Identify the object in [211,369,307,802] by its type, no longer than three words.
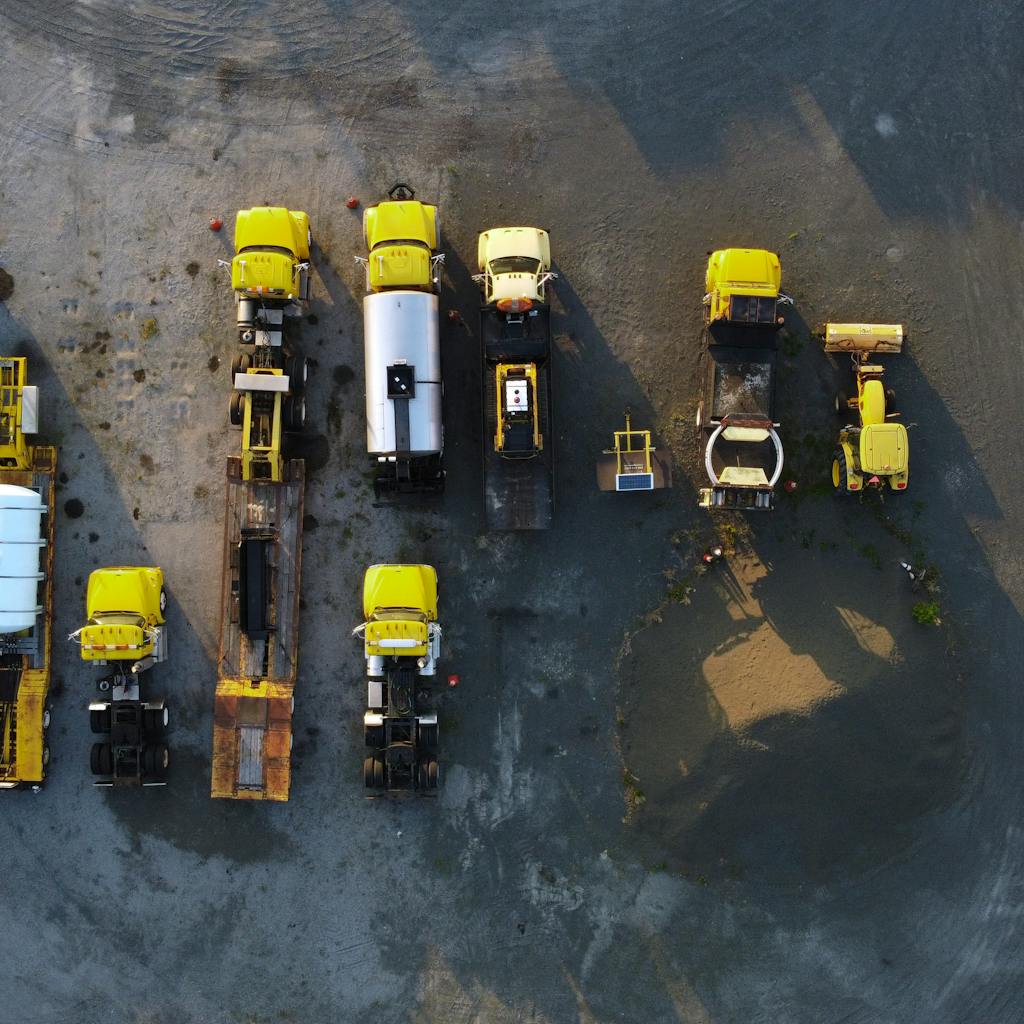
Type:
trailer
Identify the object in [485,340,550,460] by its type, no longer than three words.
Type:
work vehicle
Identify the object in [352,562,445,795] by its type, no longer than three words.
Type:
truck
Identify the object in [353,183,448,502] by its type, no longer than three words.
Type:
truck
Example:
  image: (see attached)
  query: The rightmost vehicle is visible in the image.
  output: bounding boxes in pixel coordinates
[820,326,919,497]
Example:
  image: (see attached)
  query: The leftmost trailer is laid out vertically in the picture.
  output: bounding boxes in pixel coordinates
[0,356,60,789]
